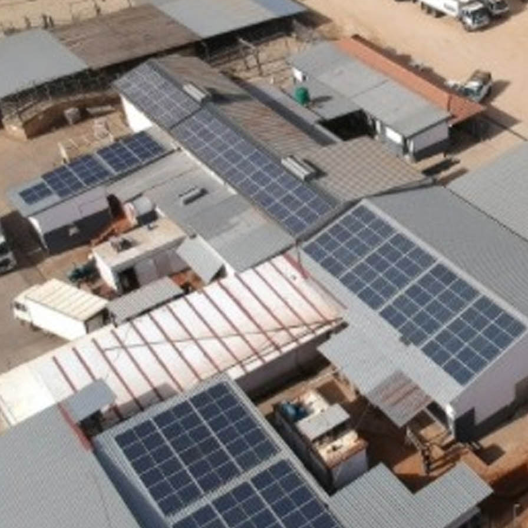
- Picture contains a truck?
Yes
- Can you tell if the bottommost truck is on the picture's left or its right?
left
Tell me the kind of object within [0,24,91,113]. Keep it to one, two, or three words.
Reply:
shed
